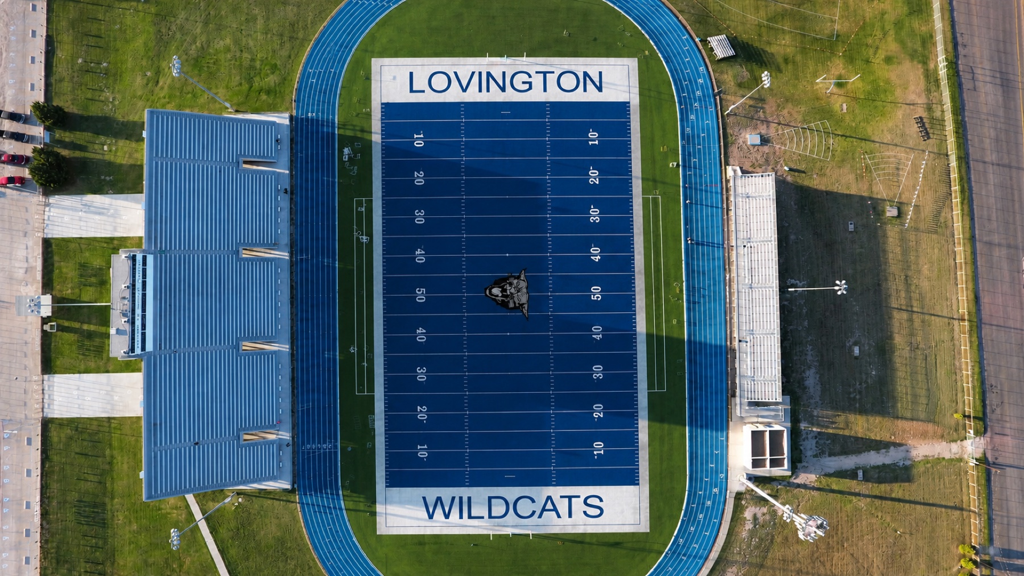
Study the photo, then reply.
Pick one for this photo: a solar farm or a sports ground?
sports ground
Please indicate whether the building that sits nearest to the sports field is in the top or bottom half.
bottom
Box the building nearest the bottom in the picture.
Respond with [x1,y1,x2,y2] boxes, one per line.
[743,423,788,470]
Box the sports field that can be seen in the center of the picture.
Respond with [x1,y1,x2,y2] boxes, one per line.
[381,102,637,488]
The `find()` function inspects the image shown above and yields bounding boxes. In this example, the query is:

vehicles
[0,111,24,123]
[3,153,27,164]
[0,174,24,185]
[0,130,27,142]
